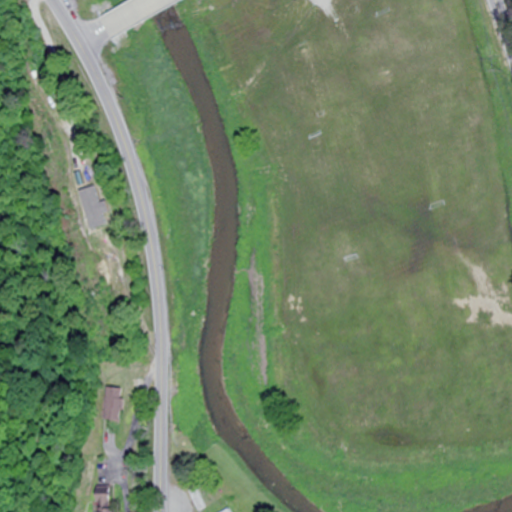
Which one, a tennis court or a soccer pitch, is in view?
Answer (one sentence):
The image shows a soccer pitch.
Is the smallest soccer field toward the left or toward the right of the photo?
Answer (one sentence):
The smallest soccer field appears in the right half of the scene.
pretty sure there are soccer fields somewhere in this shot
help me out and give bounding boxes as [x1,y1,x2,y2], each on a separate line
[282,125,384,266]
[330,0,487,218]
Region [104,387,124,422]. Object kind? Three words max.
house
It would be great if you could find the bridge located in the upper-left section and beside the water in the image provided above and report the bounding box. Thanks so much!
[96,0,176,38]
